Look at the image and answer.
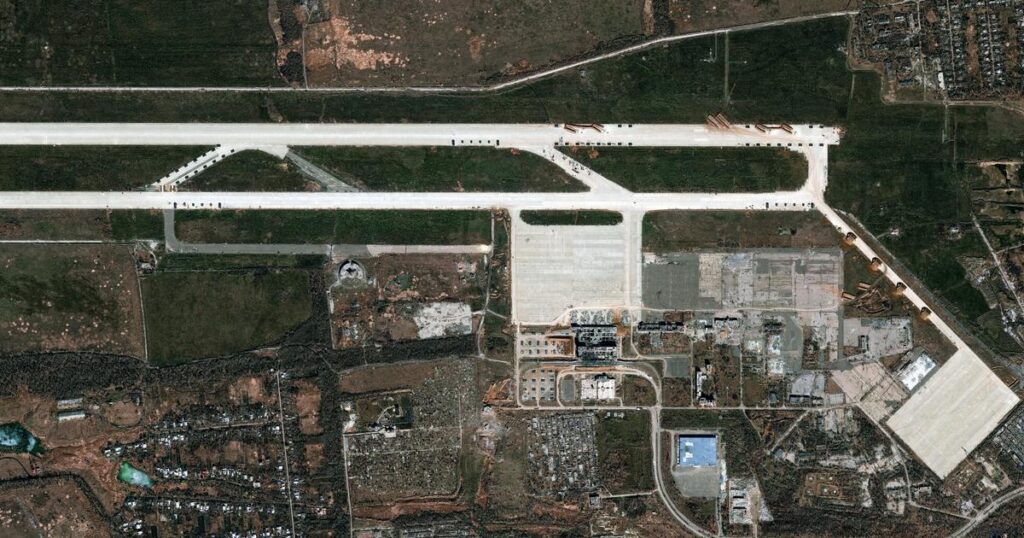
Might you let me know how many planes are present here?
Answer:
none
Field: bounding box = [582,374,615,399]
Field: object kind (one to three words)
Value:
building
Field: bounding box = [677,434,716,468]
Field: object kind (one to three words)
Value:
building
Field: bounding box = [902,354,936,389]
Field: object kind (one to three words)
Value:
hangar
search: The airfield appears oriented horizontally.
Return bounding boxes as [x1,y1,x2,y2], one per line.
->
[0,123,1019,479]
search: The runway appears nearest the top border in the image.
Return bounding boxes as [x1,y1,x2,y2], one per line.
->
[0,123,840,147]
